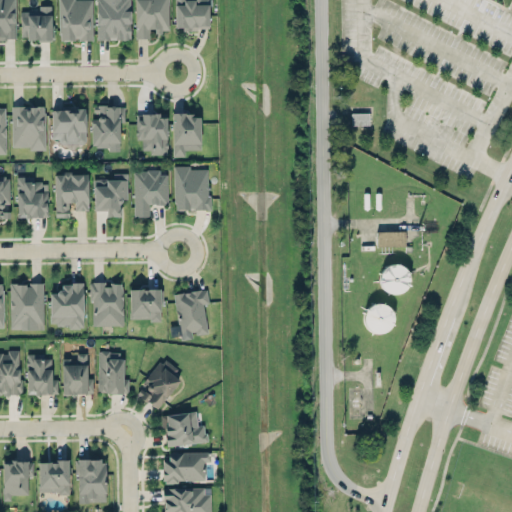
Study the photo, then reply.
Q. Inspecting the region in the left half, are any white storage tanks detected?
No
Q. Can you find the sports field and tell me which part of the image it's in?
bottom right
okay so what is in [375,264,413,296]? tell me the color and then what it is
white storage tank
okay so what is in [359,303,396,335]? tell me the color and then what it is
white storage tank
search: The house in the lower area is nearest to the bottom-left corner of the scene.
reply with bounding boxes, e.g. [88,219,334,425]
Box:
[3,462,34,502]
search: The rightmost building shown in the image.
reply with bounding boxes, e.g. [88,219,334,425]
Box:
[378,232,408,248]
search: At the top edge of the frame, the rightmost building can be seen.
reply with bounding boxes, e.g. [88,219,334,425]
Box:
[176,0,211,32]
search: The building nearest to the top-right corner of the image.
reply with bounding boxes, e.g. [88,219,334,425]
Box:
[350,110,373,128]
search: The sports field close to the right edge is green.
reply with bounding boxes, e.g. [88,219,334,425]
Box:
[437,440,512,512]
